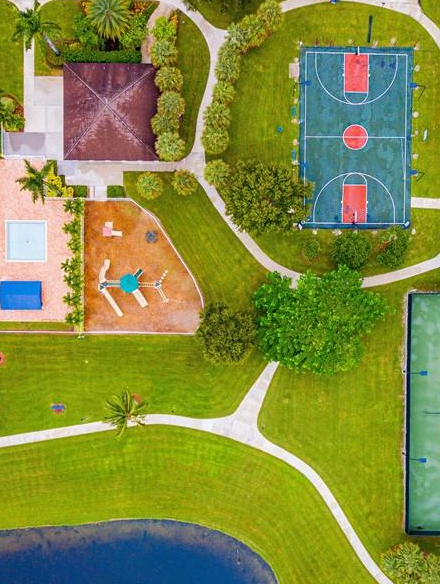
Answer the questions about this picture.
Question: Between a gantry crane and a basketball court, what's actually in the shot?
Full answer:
It is a basketball court that can be seen here.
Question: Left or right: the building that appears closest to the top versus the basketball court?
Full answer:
In the image, the building that appears closest to the top sits on the left side of the basketball court.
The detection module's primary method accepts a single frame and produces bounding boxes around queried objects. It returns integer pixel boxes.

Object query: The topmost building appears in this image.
[63,63,159,160]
